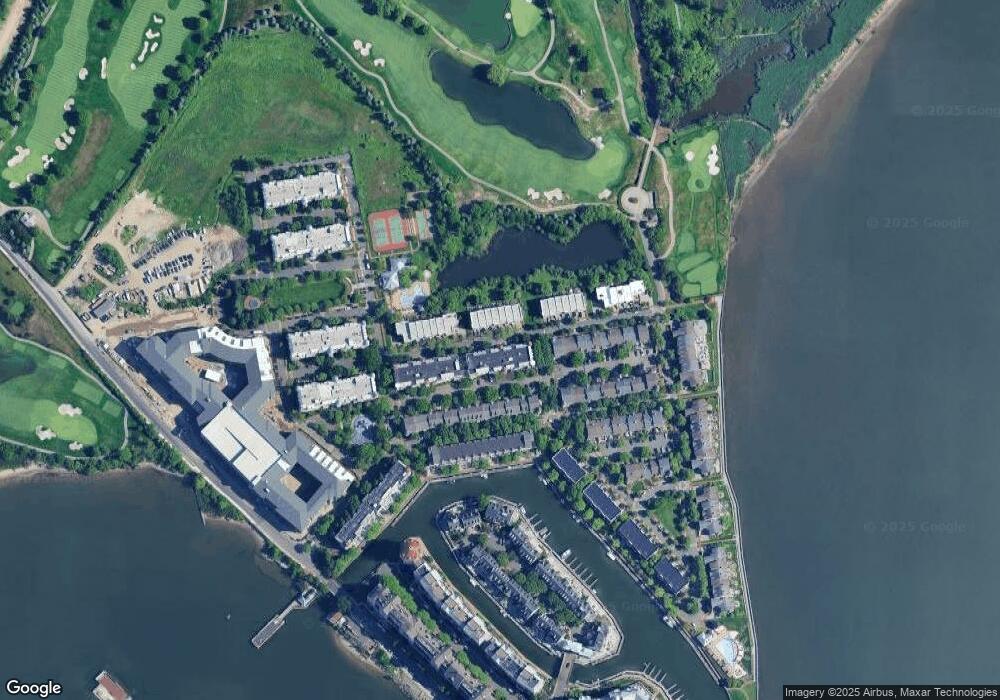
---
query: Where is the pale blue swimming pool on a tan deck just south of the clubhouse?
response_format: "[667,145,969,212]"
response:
[391,280,431,314]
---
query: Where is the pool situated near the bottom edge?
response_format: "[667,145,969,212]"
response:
[706,626,746,678]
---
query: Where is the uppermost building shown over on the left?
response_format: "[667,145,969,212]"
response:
[263,170,344,209]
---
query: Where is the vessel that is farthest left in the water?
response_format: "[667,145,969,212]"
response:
[98,667,135,700]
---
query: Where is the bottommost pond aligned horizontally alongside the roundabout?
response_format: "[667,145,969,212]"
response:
[438,221,626,290]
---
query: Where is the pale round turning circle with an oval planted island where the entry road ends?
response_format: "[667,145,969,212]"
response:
[616,183,655,219]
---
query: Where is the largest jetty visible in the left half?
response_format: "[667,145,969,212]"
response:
[253,585,317,647]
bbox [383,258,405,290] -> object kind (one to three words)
building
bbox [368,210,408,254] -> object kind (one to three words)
tennis court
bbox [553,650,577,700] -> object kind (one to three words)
bridge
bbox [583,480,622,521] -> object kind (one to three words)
building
